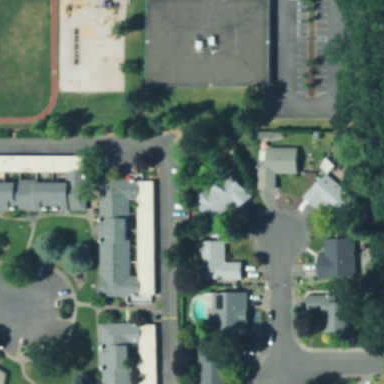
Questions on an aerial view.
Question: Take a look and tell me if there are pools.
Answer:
Yes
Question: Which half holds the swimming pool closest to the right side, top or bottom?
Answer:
bottom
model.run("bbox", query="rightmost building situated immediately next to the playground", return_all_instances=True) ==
[147,0,270,86]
